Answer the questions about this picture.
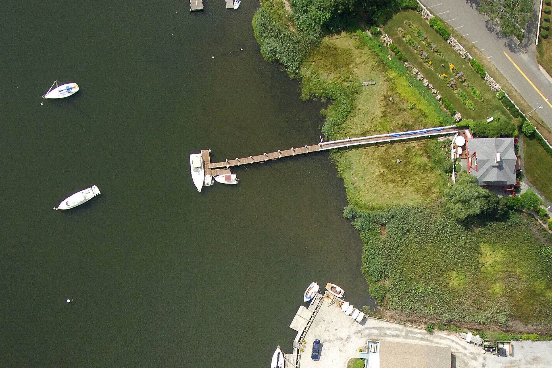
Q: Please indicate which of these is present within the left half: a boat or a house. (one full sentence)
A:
The feature located within the left half is a boat.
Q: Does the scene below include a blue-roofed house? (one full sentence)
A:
No, there isn't any blue-roofed house down there.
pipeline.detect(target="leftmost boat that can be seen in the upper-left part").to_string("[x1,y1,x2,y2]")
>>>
[44,82,80,99]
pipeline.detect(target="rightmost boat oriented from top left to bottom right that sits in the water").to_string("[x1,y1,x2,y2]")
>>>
[328,283,345,298]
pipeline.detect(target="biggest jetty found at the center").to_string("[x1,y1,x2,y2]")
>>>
[202,124,460,183]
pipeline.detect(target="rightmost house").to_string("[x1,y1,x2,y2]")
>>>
[453,130,520,199]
